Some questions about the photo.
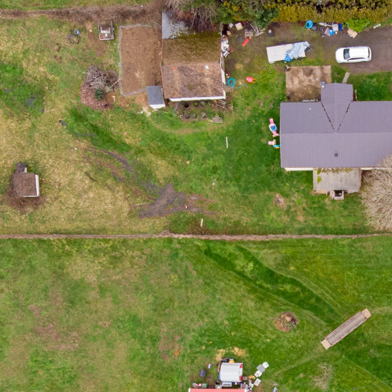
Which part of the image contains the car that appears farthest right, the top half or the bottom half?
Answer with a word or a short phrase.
top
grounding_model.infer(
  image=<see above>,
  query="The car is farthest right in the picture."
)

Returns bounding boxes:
[335,45,372,65]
